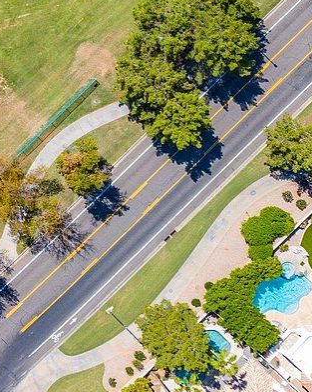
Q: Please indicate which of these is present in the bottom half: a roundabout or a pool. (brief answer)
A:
pool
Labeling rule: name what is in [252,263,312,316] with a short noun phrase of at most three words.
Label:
swimming pool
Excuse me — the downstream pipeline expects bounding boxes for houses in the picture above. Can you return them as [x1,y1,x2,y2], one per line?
[280,332,312,392]
[207,356,290,392]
